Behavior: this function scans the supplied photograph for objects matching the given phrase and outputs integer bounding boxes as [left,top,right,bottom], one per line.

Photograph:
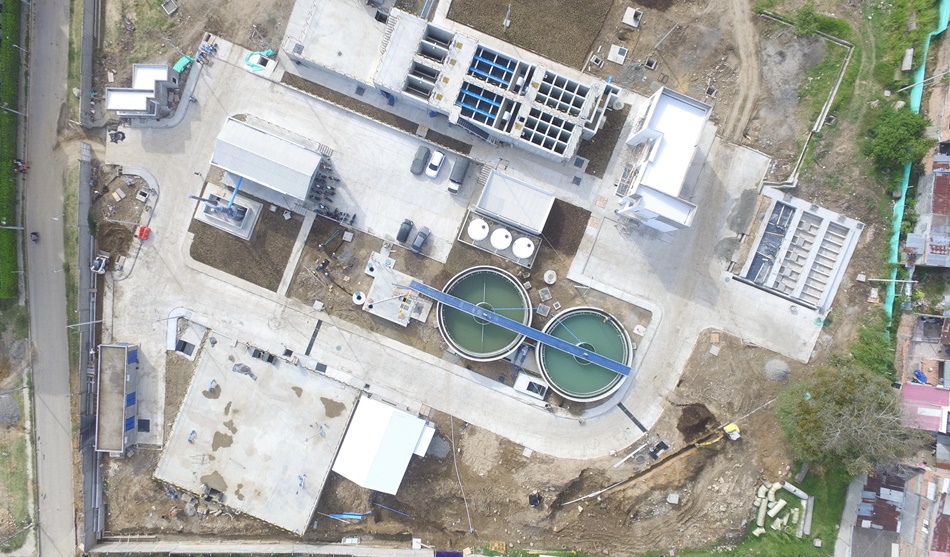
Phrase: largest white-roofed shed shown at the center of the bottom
[331,394,437,494]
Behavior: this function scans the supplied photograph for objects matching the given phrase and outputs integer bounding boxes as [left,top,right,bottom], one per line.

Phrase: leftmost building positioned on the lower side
[95,342,160,460]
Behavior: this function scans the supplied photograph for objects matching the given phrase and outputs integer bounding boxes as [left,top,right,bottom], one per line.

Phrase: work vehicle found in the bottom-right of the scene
[705,423,743,443]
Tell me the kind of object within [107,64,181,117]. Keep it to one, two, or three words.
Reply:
building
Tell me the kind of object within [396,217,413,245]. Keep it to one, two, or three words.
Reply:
car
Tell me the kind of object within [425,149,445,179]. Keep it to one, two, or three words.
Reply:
car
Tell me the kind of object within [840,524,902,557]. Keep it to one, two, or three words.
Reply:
house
